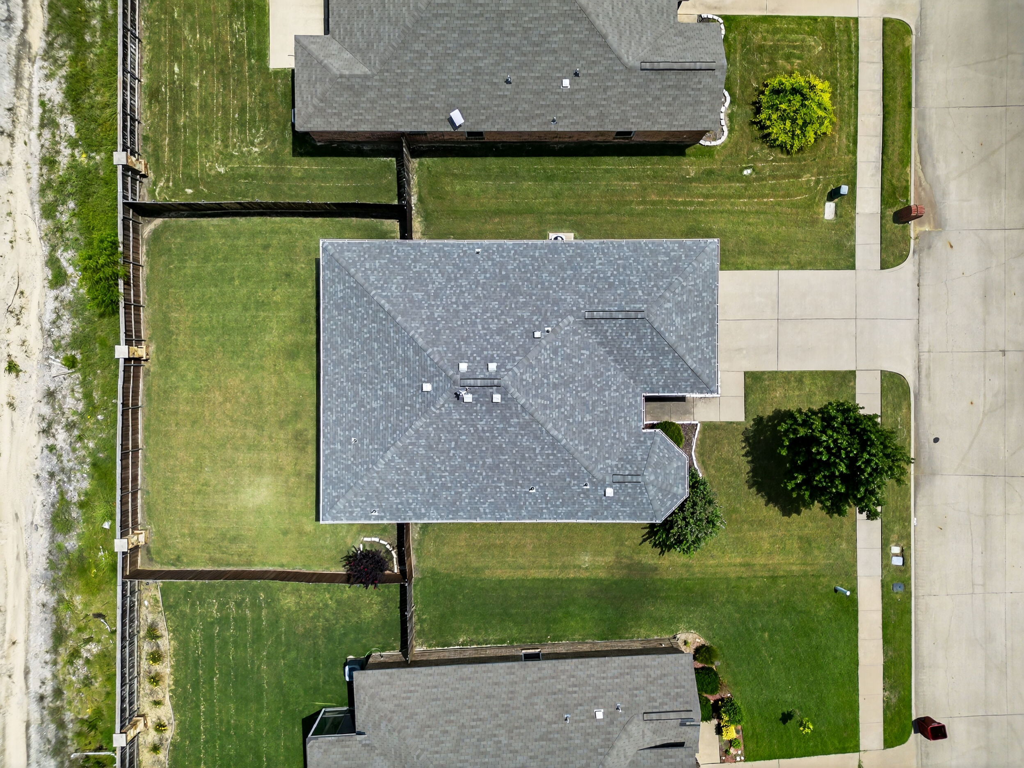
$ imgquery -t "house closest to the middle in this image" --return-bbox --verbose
[320,238,720,524]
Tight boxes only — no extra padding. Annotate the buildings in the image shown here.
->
[306,637,707,768]
[294,0,729,141]
[320,238,720,524]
